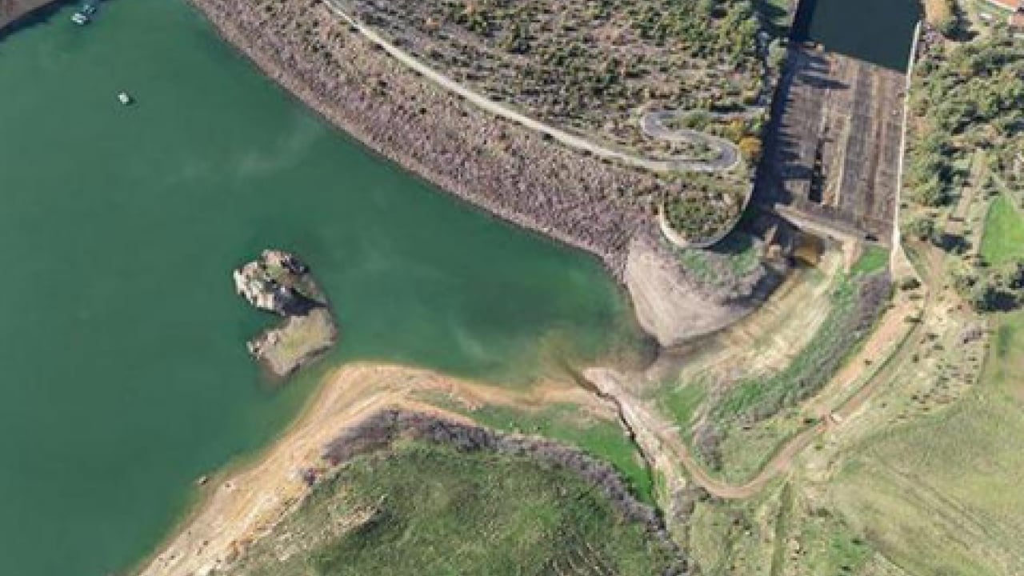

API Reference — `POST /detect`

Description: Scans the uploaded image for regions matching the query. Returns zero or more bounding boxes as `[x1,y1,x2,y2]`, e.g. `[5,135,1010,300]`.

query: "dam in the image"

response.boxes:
[193,0,798,281]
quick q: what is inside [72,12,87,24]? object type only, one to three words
boat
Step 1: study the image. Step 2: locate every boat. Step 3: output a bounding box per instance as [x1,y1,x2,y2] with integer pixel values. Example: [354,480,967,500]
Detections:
[72,12,87,24]
[82,4,92,14]
[118,92,128,103]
